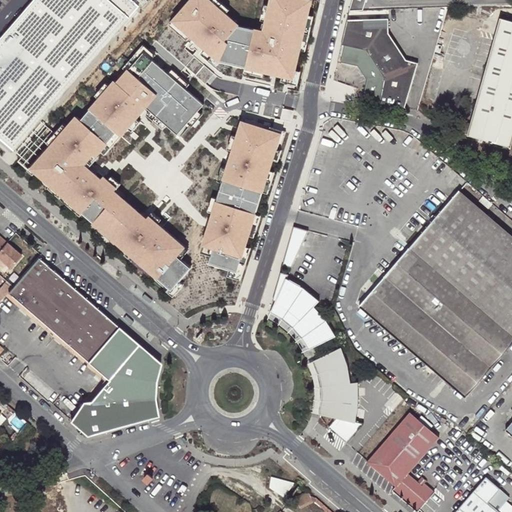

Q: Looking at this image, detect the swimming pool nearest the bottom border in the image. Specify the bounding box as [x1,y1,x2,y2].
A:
[8,412,29,434]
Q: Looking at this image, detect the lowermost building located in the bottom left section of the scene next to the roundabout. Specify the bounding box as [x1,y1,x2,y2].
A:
[72,328,163,438]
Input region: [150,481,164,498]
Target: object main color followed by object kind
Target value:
white vehicle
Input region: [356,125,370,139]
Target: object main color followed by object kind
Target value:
white vehicle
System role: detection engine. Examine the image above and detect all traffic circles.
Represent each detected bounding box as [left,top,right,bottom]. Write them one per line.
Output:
[176,338,292,456]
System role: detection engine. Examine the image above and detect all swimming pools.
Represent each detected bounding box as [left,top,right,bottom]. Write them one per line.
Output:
[101,62,111,72]
[8,412,29,434]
